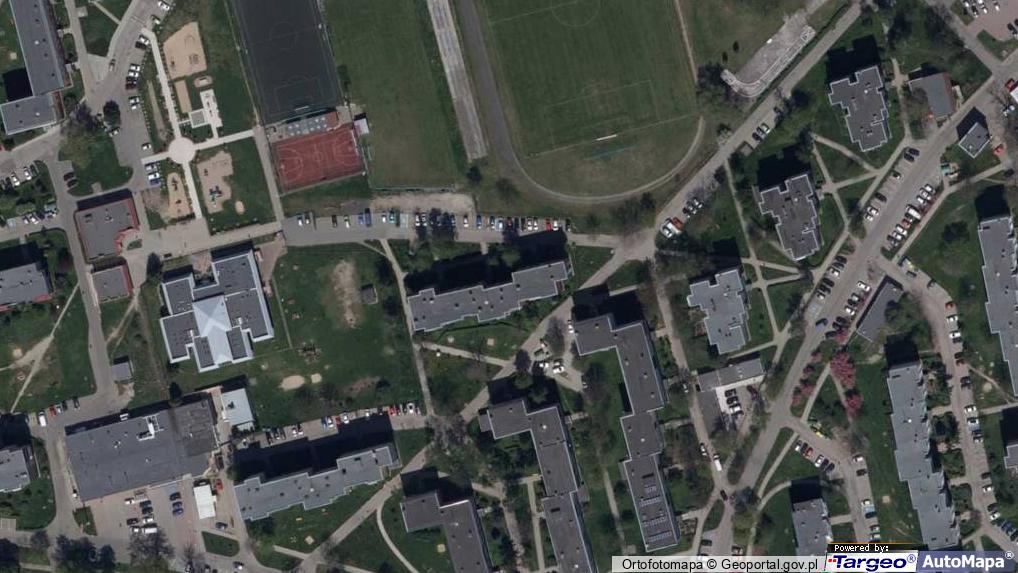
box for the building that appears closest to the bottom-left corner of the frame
[0,445,40,494]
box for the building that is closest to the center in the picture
[408,262,574,333]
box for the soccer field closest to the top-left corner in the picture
[227,0,347,135]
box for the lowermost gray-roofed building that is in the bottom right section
[792,496,839,573]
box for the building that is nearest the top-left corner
[0,0,74,135]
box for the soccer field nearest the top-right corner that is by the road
[477,0,701,198]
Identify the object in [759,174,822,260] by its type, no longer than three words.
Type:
building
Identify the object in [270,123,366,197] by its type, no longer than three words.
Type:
basketball court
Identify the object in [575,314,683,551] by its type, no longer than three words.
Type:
building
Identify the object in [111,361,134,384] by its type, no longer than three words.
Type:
shed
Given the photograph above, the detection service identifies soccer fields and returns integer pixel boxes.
[477,0,701,198]
[227,0,347,135]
